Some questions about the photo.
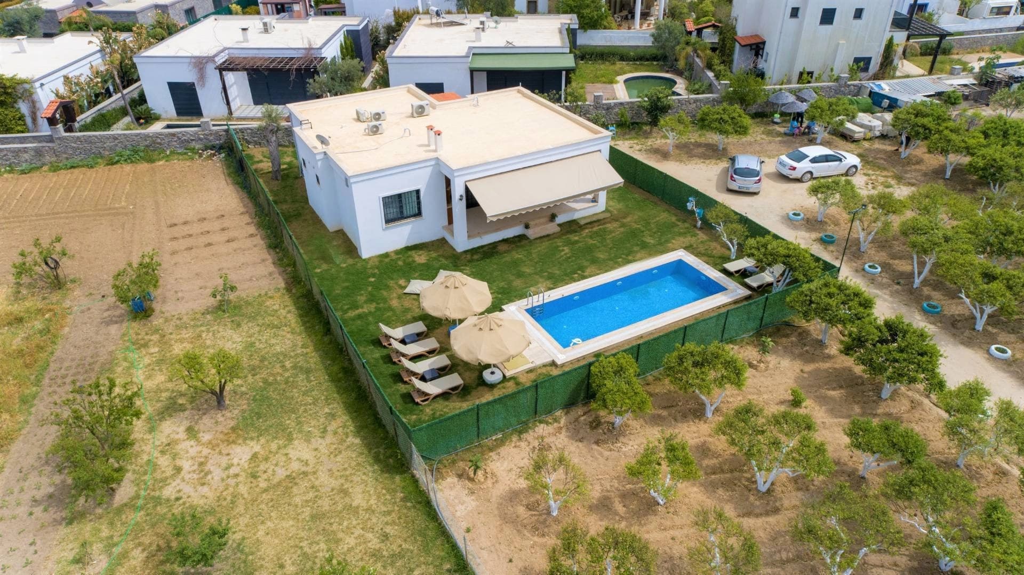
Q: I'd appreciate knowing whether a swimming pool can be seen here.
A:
Yes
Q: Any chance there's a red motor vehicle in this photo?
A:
No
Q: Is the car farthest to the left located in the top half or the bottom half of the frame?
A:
top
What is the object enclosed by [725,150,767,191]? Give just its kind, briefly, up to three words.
car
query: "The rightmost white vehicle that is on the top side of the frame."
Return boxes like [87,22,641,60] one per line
[774,142,864,182]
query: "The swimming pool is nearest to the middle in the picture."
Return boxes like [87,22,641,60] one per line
[503,246,750,364]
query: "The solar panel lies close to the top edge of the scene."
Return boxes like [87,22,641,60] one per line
[439,11,470,28]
